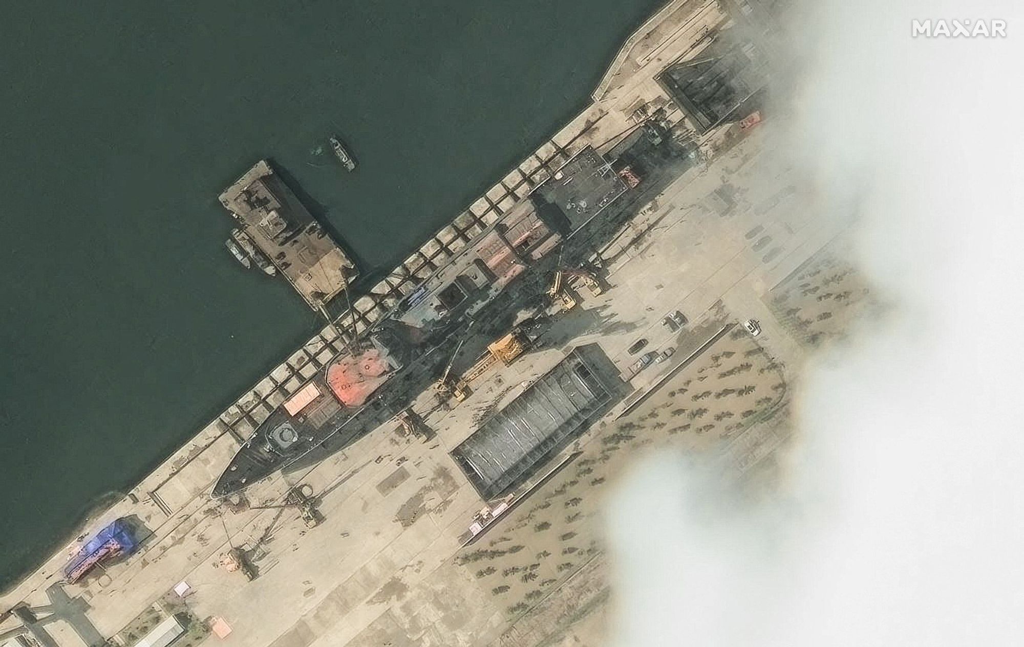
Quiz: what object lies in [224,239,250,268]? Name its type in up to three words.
boat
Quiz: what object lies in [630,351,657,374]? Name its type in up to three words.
truck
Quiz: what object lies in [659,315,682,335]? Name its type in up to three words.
vehicle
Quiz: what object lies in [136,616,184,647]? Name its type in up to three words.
building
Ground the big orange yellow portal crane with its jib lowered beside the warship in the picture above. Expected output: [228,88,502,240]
[457,333,531,391]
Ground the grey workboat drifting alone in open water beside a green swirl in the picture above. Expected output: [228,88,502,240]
[329,135,356,170]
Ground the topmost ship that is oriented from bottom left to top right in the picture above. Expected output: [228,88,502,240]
[211,144,627,498]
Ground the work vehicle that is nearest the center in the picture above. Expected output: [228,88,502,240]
[556,284,578,311]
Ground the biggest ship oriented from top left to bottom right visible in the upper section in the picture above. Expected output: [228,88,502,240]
[218,159,360,357]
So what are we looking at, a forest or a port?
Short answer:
port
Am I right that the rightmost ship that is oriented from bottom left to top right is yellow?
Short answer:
No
